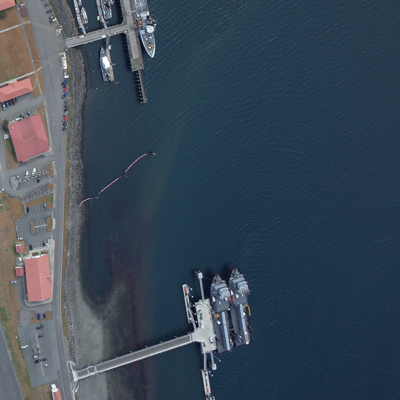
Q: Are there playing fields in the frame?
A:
No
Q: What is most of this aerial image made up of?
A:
water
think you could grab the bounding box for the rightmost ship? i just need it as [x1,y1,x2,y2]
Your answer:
[228,266,255,346]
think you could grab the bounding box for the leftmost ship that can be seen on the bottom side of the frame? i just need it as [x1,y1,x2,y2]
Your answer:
[210,271,235,353]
